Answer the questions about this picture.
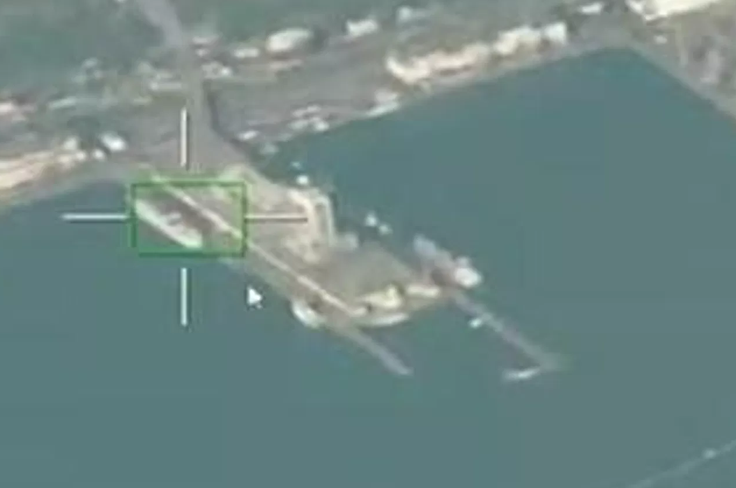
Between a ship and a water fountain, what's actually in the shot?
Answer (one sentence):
Of the two, only a ship appears.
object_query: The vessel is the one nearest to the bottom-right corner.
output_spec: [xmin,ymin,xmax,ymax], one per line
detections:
[506,367,541,379]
